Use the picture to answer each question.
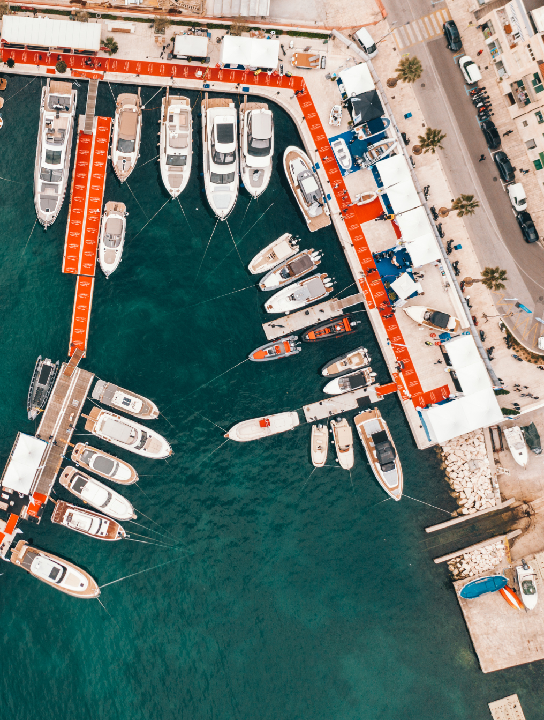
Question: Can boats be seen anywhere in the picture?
Yes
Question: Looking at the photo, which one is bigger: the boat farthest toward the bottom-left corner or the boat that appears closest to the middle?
the boat farthest toward the bottom-left corner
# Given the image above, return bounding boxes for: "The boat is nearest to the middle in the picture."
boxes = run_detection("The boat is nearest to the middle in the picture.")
[250,339,300,363]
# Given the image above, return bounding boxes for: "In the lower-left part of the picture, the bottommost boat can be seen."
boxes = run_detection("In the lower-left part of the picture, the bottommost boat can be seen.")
[12,540,101,601]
